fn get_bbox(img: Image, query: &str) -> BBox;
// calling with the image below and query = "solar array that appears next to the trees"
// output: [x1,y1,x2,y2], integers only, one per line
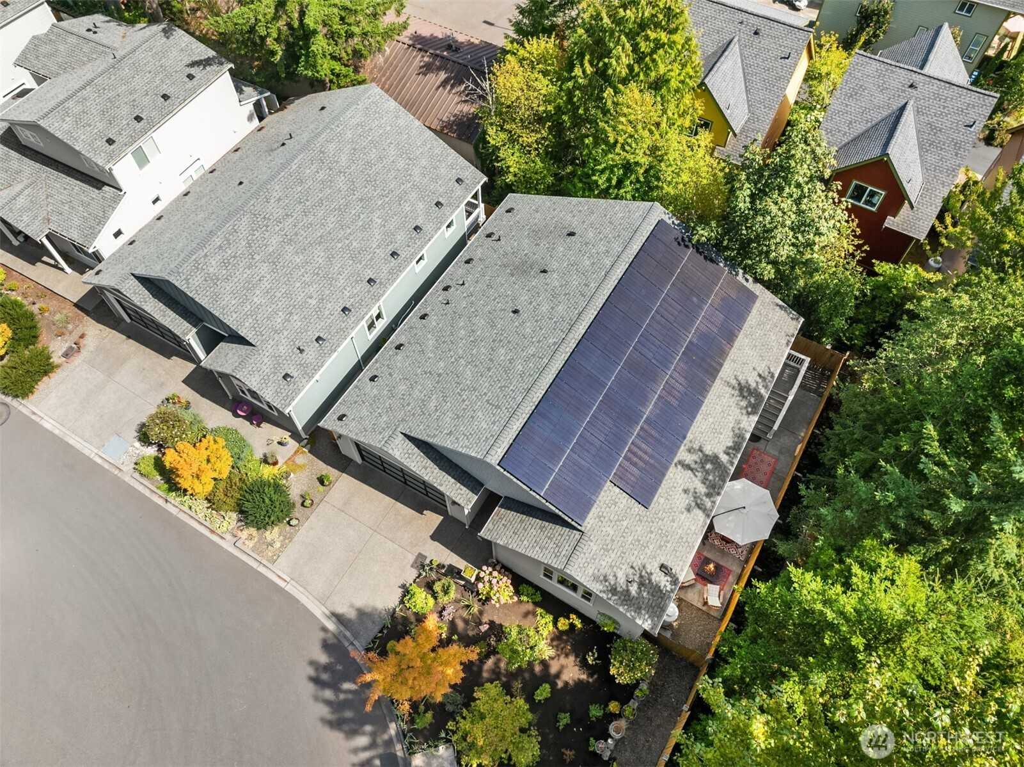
[505,217,761,526]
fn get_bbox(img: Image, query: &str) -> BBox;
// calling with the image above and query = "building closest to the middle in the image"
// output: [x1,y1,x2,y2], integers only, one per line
[316,192,805,638]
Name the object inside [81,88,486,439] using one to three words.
house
